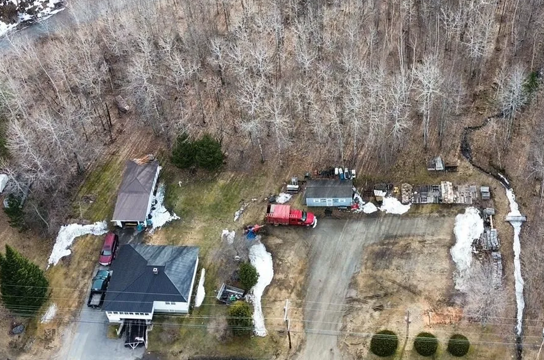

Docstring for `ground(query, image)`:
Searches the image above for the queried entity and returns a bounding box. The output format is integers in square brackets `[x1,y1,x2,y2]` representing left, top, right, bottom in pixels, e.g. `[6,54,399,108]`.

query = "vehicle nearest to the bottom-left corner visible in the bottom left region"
[84,269,116,312]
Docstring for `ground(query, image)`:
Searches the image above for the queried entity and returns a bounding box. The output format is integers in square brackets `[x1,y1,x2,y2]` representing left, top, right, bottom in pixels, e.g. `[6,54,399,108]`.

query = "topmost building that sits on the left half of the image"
[109,155,160,230]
